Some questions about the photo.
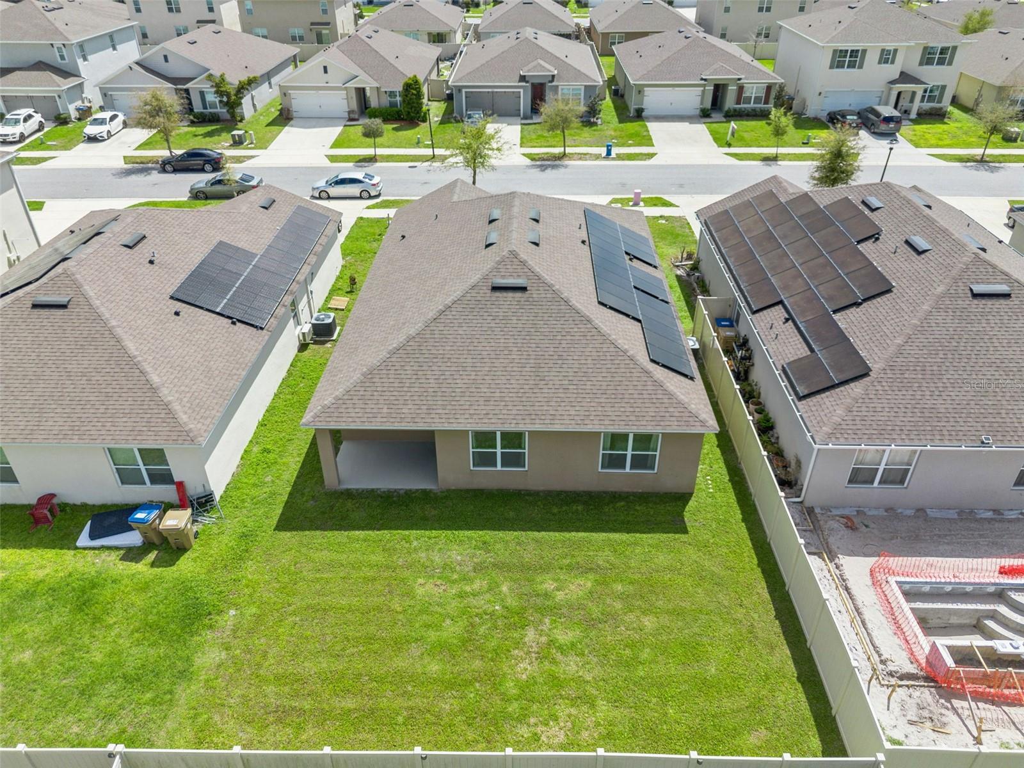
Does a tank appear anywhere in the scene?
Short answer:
No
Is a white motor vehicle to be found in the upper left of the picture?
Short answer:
Yes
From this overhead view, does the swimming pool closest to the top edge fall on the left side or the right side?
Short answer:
right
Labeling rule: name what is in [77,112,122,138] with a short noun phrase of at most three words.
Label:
car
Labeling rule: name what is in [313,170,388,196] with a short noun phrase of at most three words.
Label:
car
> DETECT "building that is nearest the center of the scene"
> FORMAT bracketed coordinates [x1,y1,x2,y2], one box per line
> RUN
[300,179,720,493]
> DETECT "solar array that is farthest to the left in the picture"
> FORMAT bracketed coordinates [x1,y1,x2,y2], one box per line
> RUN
[0,213,121,299]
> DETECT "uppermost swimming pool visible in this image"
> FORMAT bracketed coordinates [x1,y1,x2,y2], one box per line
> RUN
[880,571,1024,640]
